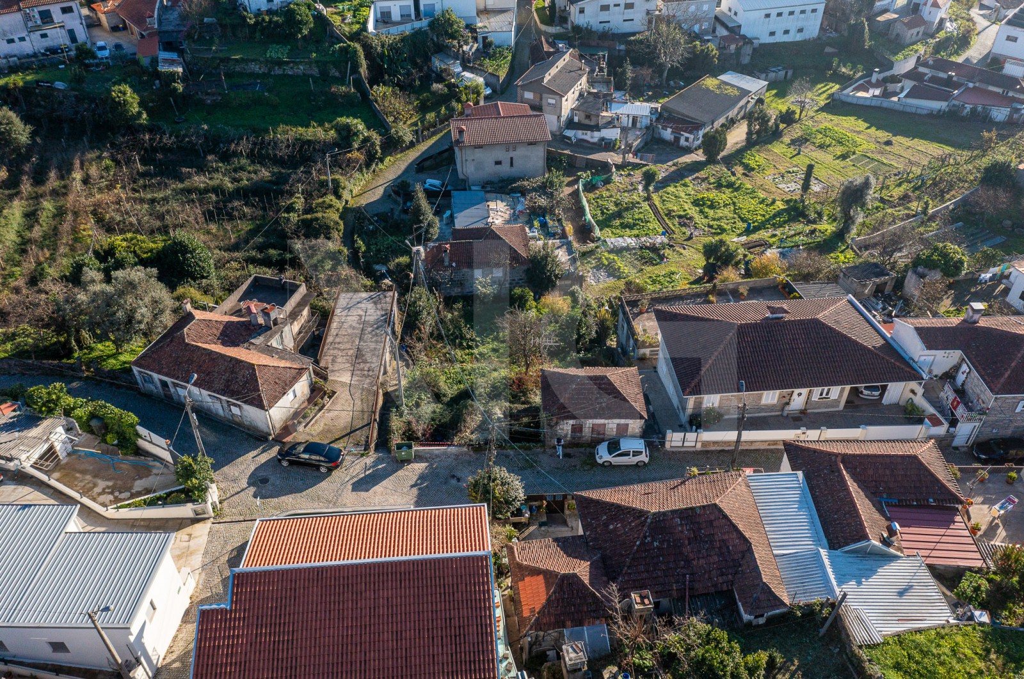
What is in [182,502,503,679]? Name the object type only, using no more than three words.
building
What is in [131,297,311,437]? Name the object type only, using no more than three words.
house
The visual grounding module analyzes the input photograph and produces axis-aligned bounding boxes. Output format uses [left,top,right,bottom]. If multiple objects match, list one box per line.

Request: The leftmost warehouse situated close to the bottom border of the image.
[0,500,203,678]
